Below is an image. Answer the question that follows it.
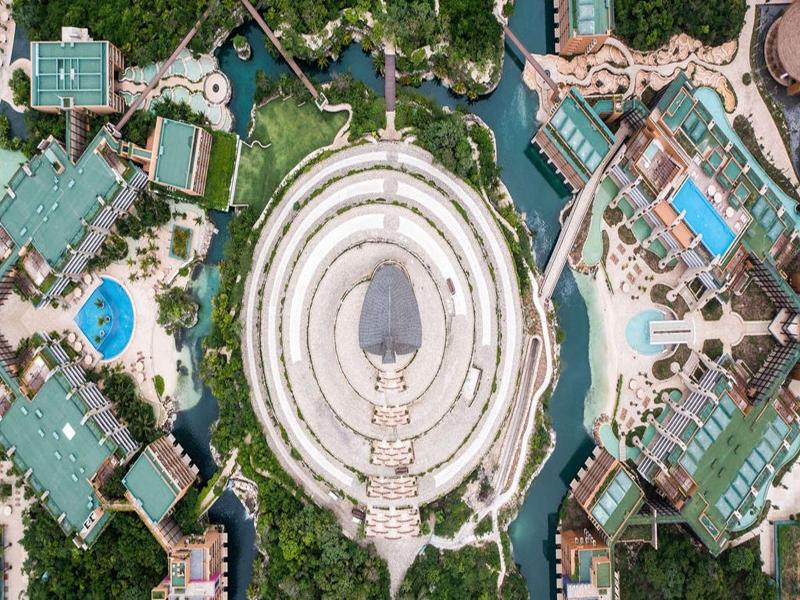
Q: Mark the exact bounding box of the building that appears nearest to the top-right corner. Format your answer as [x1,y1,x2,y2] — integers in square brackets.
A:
[757,3,800,101]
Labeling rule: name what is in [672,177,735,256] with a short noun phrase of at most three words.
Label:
swimming pool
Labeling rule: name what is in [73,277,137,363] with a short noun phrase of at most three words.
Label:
swimming pool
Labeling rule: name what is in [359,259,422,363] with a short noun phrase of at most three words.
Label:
building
